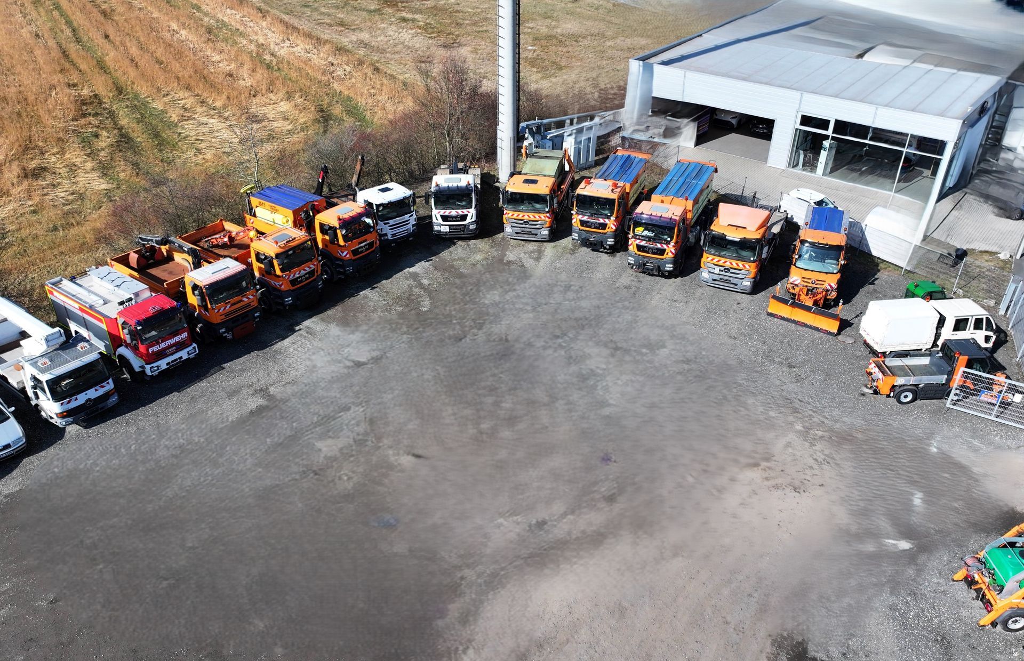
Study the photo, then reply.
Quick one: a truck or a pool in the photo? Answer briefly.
truck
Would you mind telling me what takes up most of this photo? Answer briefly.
paved ground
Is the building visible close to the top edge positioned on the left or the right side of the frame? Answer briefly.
right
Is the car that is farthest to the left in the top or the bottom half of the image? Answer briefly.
bottom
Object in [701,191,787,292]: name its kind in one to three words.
truck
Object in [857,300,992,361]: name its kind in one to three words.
truck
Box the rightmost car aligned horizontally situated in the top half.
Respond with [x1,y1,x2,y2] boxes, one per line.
[951,180,1024,215]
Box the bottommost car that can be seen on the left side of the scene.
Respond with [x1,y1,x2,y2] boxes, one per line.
[0,407,28,459]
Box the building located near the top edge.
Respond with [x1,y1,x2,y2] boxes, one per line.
[624,0,1024,207]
